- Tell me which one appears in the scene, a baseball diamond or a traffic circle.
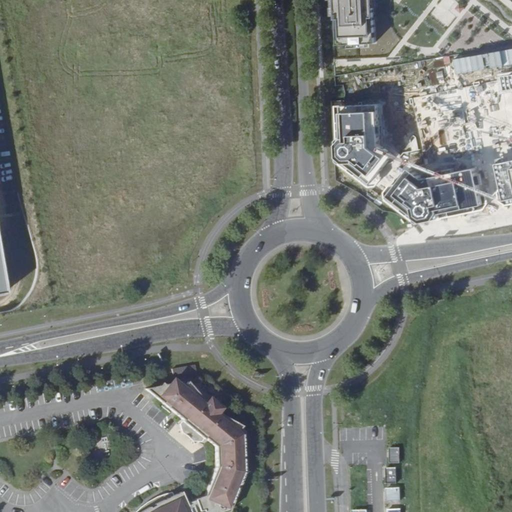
traffic circle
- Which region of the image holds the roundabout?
center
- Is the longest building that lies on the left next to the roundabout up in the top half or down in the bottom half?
bottom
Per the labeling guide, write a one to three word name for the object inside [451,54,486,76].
shed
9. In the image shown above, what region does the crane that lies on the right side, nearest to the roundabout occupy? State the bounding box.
[370,145,501,205]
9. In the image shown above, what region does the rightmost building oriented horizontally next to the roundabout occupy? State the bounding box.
[382,169,486,223]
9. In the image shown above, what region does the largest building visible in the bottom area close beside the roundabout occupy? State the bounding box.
[146,378,248,508]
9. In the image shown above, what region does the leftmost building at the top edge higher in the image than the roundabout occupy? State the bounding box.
[326,0,376,47]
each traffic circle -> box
[228,218,374,365]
